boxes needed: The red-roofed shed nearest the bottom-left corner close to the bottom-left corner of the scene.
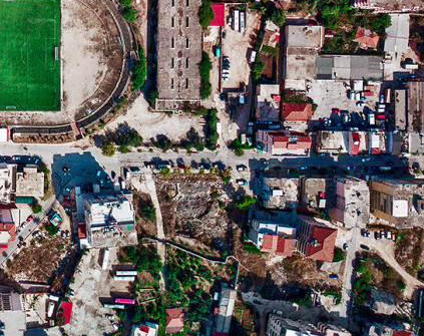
[57,299,73,324]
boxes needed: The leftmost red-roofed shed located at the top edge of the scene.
[208,2,225,26]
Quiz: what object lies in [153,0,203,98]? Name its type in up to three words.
building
